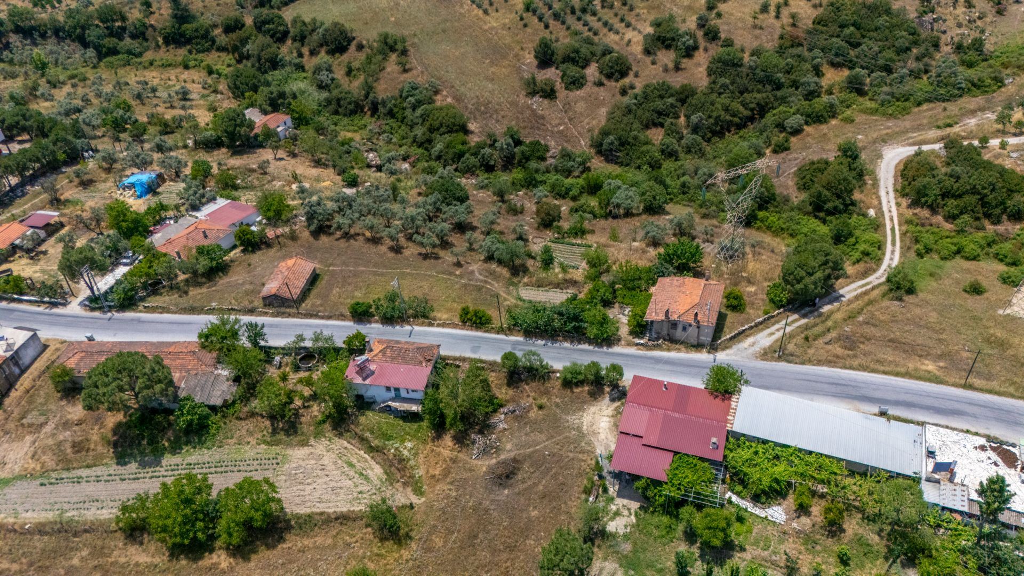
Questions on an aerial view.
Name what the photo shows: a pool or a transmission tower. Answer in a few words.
transmission tower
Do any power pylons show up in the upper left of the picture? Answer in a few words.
No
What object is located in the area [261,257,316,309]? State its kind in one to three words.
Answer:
barn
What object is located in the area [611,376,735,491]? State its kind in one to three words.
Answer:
house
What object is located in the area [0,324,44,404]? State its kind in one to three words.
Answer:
house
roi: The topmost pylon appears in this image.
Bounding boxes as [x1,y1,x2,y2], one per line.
[710,146,787,270]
